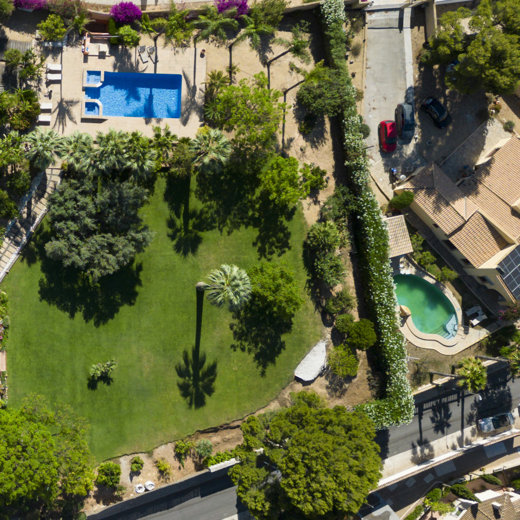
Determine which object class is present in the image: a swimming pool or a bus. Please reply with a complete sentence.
Looking from above, you can make out a swimming pool.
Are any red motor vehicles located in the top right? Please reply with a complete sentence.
Yes, a red motor vehicle shows up in the top right.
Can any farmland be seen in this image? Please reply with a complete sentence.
No, no farmland is visible.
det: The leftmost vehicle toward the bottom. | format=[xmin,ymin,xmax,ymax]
[476,409,516,433]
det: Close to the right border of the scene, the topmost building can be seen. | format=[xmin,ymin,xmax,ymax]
[393,134,520,302]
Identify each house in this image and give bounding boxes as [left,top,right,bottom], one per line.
[393,134,520,302]
[427,491,520,520]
